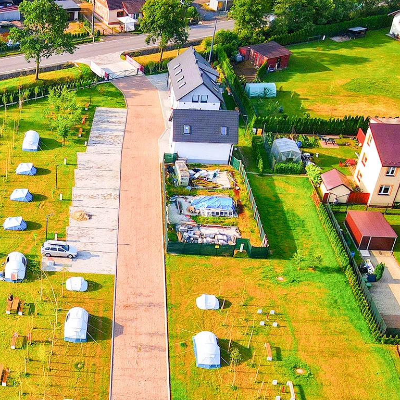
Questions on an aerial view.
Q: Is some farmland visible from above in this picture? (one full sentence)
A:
Yes, the picture does contain farmland.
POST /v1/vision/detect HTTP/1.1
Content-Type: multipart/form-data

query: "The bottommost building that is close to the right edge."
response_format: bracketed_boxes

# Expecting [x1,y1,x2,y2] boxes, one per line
[341,211,397,250]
